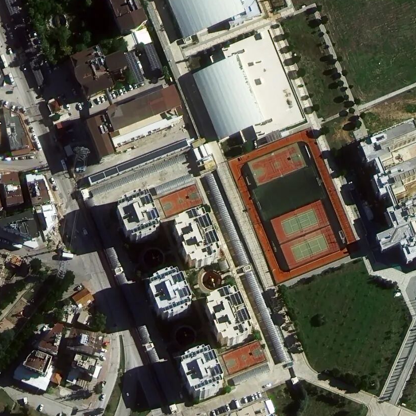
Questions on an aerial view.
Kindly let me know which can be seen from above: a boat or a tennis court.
tennis court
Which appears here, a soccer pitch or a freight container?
soccer pitch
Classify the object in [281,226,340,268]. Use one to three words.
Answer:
tennis court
